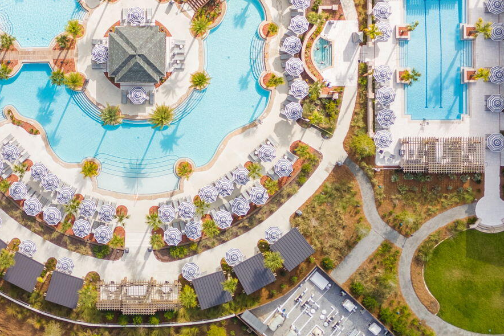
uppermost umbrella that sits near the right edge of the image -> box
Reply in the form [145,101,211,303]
[486,0,504,15]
